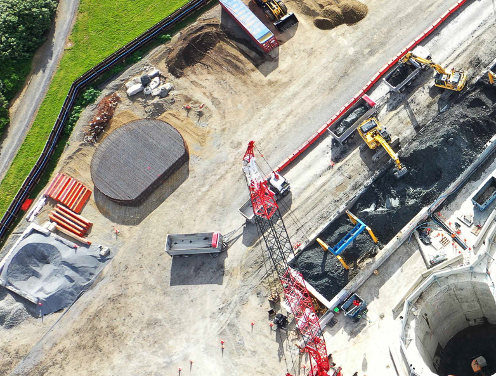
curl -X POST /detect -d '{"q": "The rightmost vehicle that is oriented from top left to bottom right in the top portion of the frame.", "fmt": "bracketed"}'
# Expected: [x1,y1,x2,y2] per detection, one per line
[413,43,473,100]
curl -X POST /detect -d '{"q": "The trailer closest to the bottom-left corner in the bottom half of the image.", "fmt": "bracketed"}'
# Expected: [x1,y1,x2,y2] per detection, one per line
[161,236,245,264]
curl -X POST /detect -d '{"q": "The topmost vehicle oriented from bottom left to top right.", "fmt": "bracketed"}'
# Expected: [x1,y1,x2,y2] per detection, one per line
[377,43,433,94]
